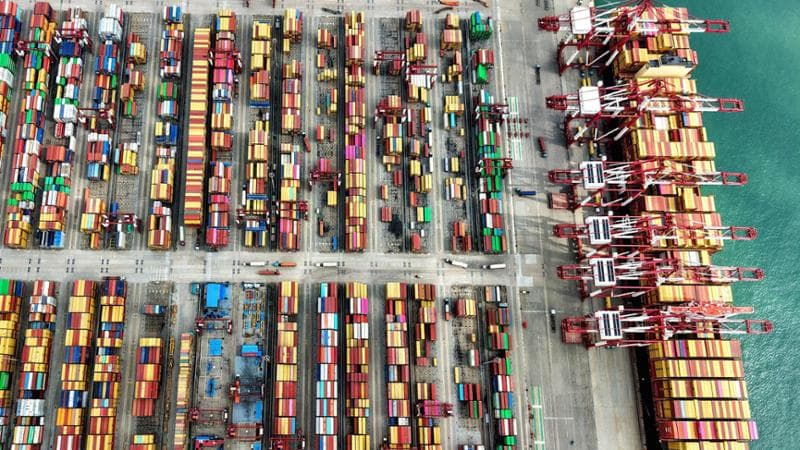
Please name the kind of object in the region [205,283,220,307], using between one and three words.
shed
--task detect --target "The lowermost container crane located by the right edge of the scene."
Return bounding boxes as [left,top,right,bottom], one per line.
[563,299,774,352]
